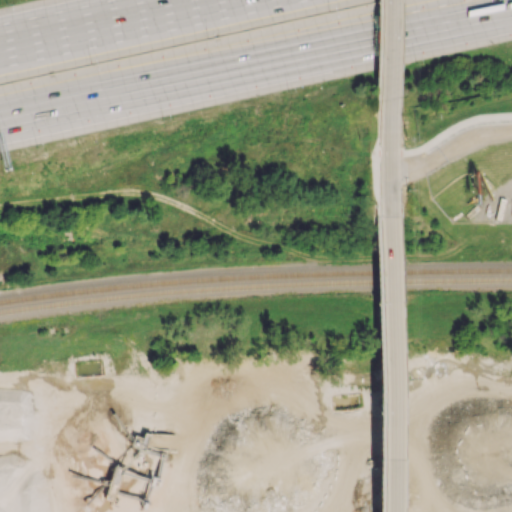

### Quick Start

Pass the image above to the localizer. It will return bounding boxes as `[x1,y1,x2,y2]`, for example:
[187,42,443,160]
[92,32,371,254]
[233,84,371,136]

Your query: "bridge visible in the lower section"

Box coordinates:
[378,218,408,512]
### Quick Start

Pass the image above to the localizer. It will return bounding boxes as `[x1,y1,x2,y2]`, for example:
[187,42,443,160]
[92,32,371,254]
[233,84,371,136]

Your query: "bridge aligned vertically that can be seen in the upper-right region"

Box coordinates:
[378,0,404,99]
